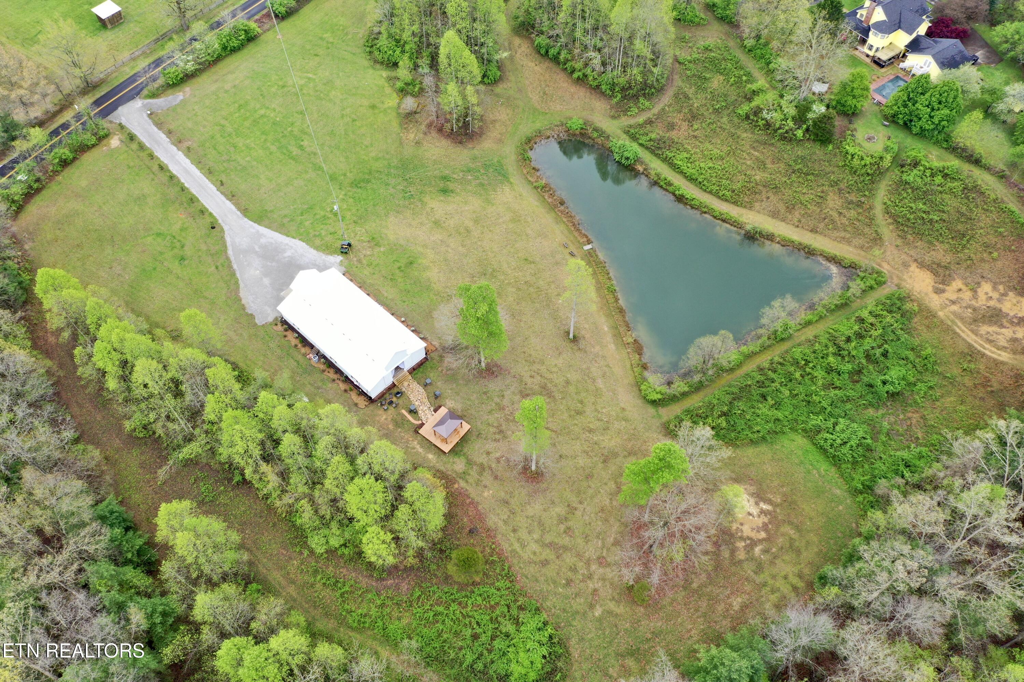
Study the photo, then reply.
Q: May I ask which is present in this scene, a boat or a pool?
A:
pool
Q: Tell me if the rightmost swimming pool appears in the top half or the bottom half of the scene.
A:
top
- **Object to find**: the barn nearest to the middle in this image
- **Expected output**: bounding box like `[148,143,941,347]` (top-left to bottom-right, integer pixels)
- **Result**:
[277,267,426,398]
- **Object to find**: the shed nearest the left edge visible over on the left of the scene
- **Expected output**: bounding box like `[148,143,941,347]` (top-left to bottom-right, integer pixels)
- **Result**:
[90,1,124,28]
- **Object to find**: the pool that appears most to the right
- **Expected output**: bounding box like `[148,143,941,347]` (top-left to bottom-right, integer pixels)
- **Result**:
[865,72,917,102]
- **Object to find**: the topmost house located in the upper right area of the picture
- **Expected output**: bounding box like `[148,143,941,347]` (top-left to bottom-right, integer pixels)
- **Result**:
[834,0,934,56]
